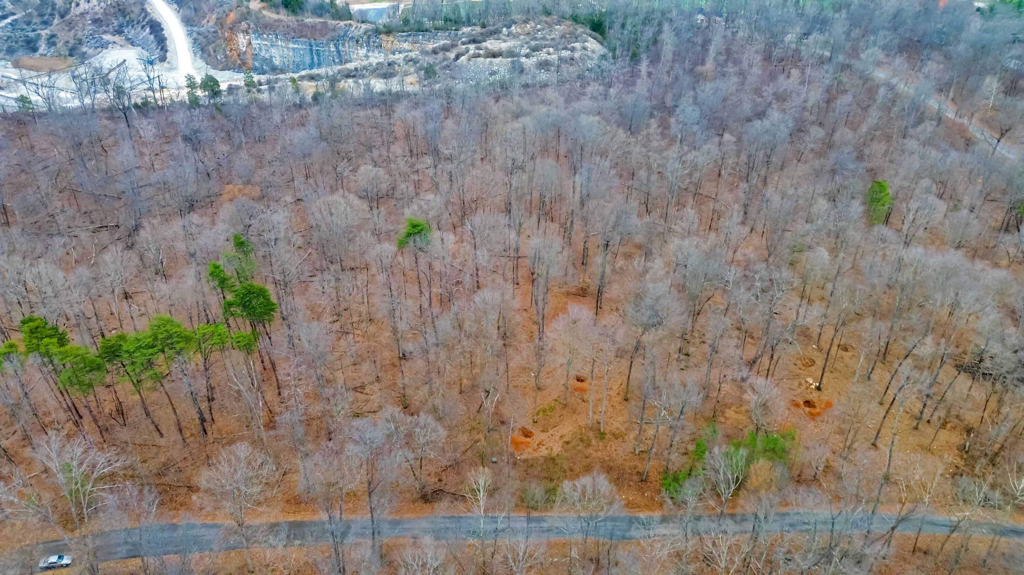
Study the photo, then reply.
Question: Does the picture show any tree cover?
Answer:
Yes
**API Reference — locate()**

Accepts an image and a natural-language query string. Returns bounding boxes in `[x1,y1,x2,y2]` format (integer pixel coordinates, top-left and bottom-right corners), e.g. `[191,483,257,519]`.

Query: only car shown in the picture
[37,556,72,574]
